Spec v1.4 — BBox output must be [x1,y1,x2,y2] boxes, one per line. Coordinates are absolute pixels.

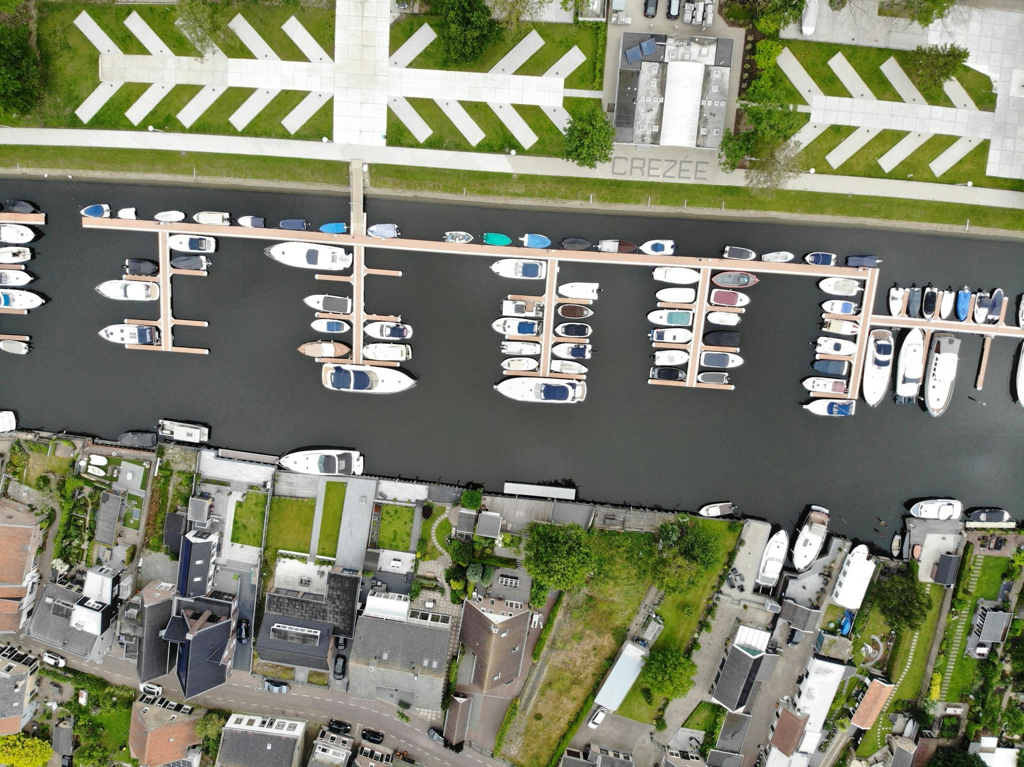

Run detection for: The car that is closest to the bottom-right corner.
[787,627,801,647]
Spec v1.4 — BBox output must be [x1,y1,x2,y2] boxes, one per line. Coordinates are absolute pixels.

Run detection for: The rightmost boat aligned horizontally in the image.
[970,508,1010,522]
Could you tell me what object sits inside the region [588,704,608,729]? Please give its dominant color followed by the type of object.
white car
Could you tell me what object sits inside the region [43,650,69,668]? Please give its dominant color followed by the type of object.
white car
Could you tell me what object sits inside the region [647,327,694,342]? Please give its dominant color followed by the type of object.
white boat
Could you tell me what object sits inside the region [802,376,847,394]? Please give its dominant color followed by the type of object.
white boat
